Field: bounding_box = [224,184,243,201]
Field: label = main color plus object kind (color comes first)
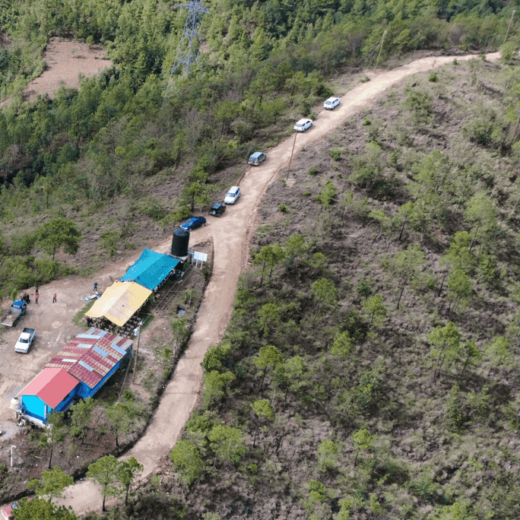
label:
white car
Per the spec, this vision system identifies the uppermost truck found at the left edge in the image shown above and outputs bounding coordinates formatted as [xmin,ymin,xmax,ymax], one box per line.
[0,300,28,329]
